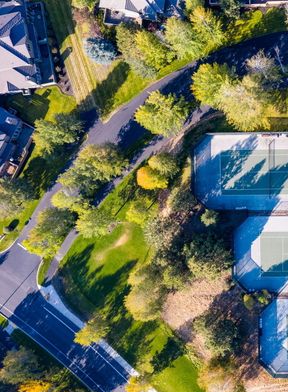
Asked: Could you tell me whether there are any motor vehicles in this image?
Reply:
No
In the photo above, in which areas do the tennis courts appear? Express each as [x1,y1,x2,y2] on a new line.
[234,216,288,293]
[261,299,288,374]
[195,134,288,210]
